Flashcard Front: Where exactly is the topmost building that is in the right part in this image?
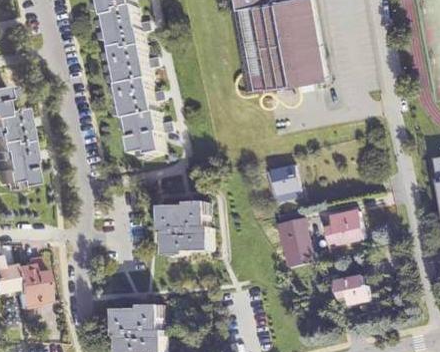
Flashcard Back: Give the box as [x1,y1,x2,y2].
[233,0,331,96]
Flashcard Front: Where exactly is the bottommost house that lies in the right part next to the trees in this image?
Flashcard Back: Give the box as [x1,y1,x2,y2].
[333,275,372,308]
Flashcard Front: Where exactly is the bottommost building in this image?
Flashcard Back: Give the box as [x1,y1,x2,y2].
[107,304,173,352]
